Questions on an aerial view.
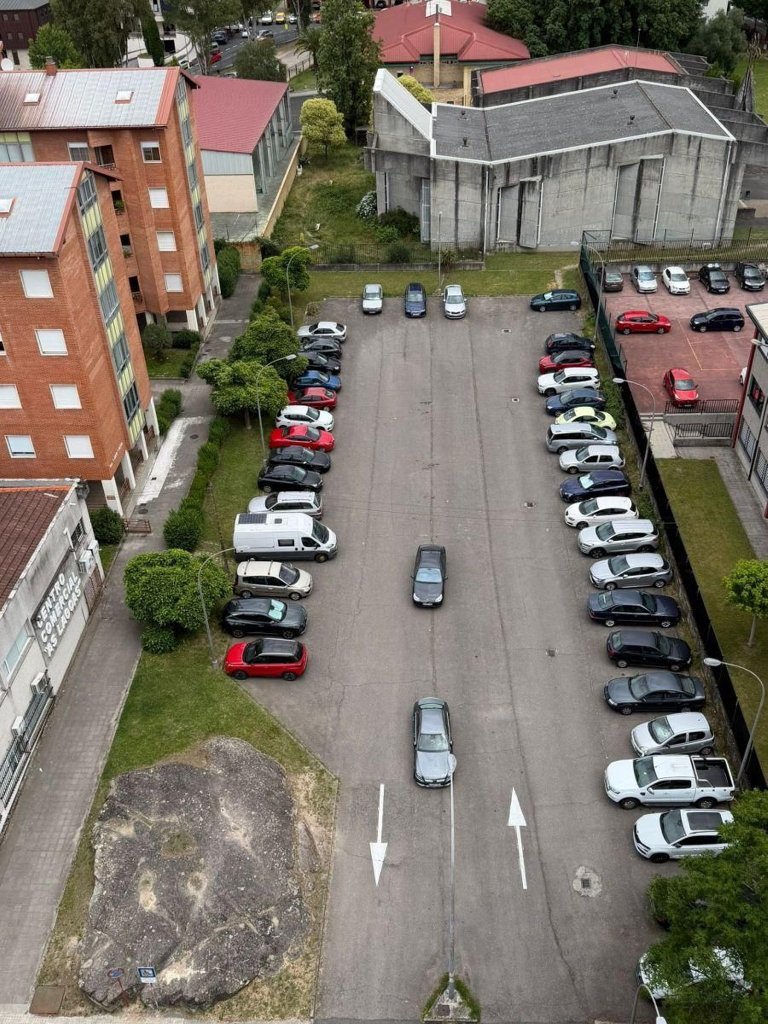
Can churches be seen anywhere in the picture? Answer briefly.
Yes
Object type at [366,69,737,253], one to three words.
church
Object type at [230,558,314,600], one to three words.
car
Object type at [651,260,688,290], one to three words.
car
